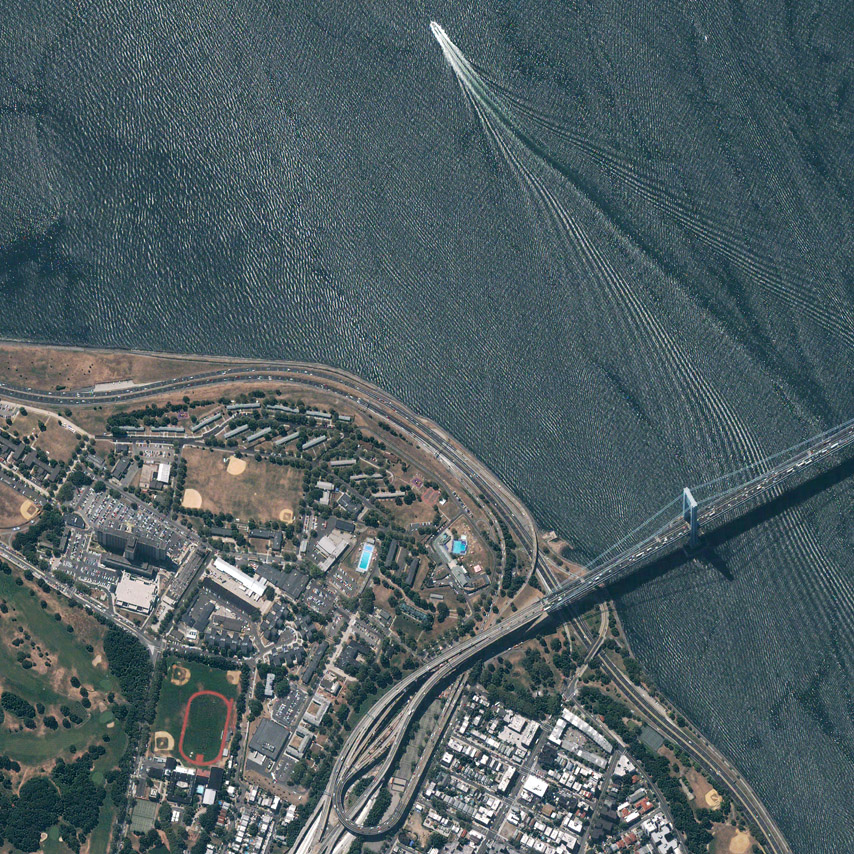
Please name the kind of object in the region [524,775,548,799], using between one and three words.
building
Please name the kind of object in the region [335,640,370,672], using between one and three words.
building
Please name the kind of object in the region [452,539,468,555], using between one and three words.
swimming pool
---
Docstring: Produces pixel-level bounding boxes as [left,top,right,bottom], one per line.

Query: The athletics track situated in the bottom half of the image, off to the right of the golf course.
[179,690,236,766]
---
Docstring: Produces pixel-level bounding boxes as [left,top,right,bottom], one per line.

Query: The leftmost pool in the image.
[355,539,375,574]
